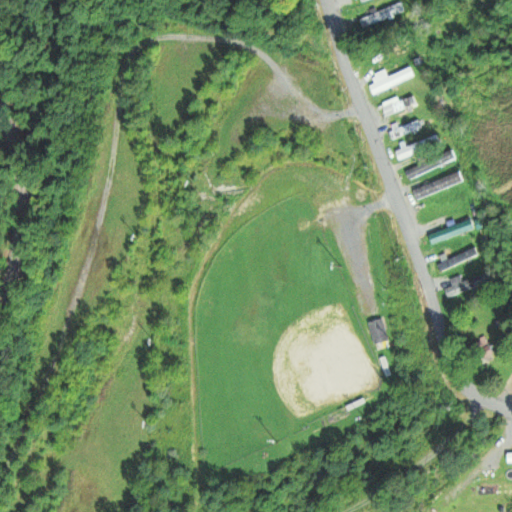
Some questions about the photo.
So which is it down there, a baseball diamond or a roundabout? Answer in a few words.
baseball diamond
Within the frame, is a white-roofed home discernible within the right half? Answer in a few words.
Yes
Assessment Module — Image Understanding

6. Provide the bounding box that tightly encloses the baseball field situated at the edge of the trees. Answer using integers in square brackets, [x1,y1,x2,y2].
[196,193,384,474]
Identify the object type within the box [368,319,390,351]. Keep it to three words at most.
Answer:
building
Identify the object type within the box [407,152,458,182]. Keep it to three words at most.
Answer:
house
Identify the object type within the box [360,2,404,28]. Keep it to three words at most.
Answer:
house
